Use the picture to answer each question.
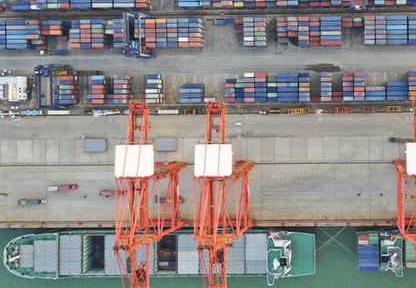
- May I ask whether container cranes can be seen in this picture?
Yes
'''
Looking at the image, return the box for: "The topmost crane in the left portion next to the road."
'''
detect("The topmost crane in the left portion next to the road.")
[126,12,158,58]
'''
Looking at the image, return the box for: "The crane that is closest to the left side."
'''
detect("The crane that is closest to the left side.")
[38,65,76,110]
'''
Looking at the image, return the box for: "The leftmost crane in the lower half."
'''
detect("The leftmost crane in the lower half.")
[105,97,192,288]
